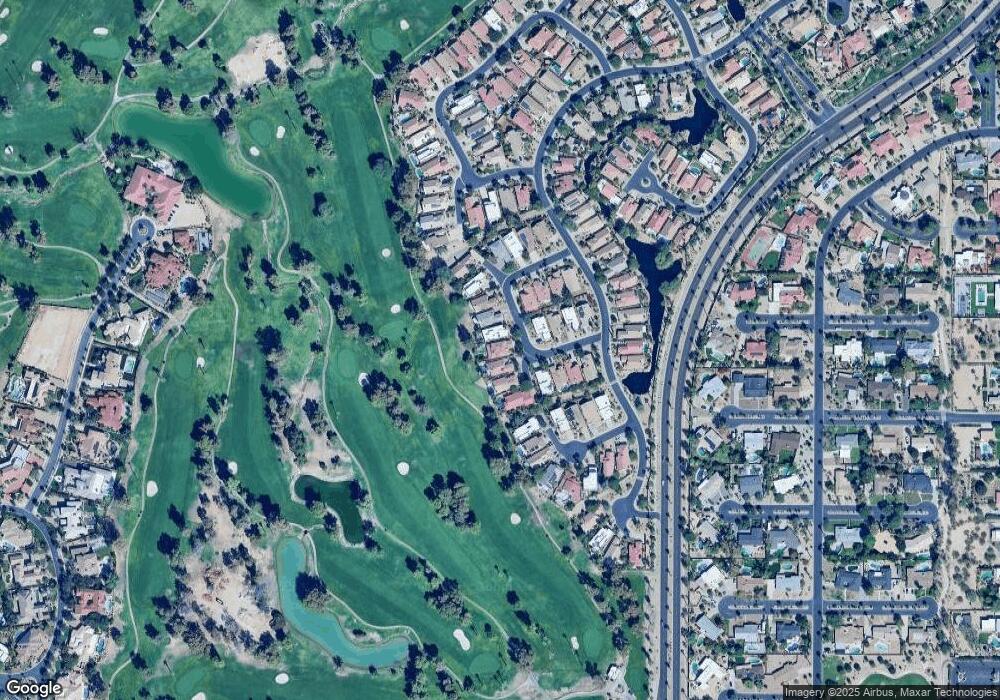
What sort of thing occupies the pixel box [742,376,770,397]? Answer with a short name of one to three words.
house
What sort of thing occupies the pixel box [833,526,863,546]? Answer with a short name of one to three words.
house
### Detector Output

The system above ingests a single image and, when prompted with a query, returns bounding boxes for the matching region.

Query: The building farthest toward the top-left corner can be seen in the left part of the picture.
[123,166,181,226]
